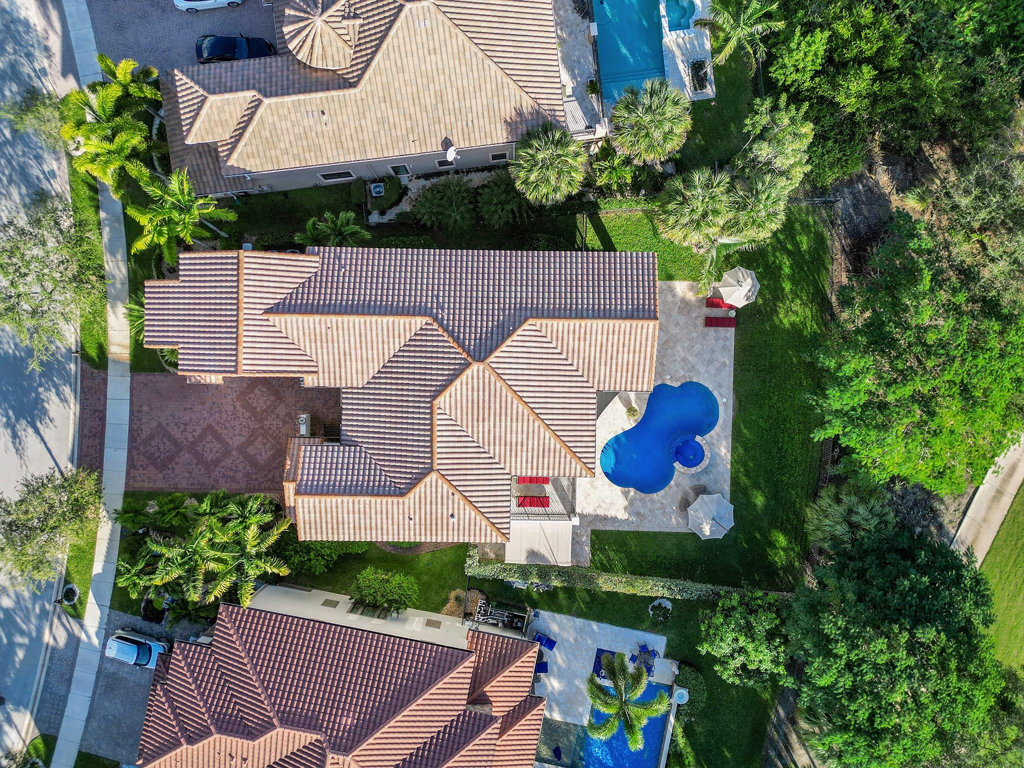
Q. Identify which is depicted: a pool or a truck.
pool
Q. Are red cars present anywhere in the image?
No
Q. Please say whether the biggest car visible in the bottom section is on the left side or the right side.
left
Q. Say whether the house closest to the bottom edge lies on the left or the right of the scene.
left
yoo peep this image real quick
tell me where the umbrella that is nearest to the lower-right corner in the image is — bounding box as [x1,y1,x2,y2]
[687,492,734,539]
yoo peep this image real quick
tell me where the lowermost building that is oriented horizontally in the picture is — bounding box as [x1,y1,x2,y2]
[135,581,548,768]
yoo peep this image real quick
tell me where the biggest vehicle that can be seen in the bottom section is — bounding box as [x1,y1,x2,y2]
[101,626,176,672]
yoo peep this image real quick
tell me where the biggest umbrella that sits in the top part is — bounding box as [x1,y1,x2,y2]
[716,266,758,308]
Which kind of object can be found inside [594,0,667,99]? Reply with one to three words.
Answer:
swimming pool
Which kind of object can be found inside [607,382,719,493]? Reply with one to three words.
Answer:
swimming pool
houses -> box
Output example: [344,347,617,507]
[142,245,660,544]
[158,0,567,205]
[135,581,548,768]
